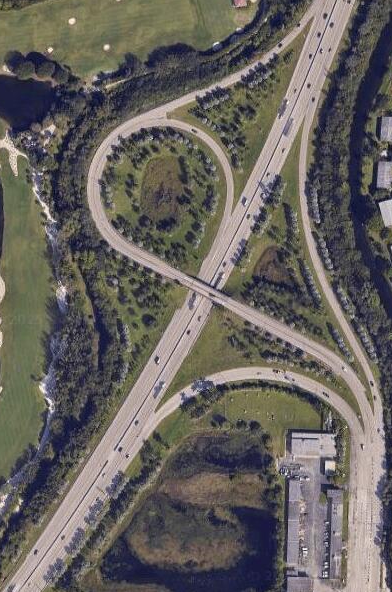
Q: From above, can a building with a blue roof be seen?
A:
No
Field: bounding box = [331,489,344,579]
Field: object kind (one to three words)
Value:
building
